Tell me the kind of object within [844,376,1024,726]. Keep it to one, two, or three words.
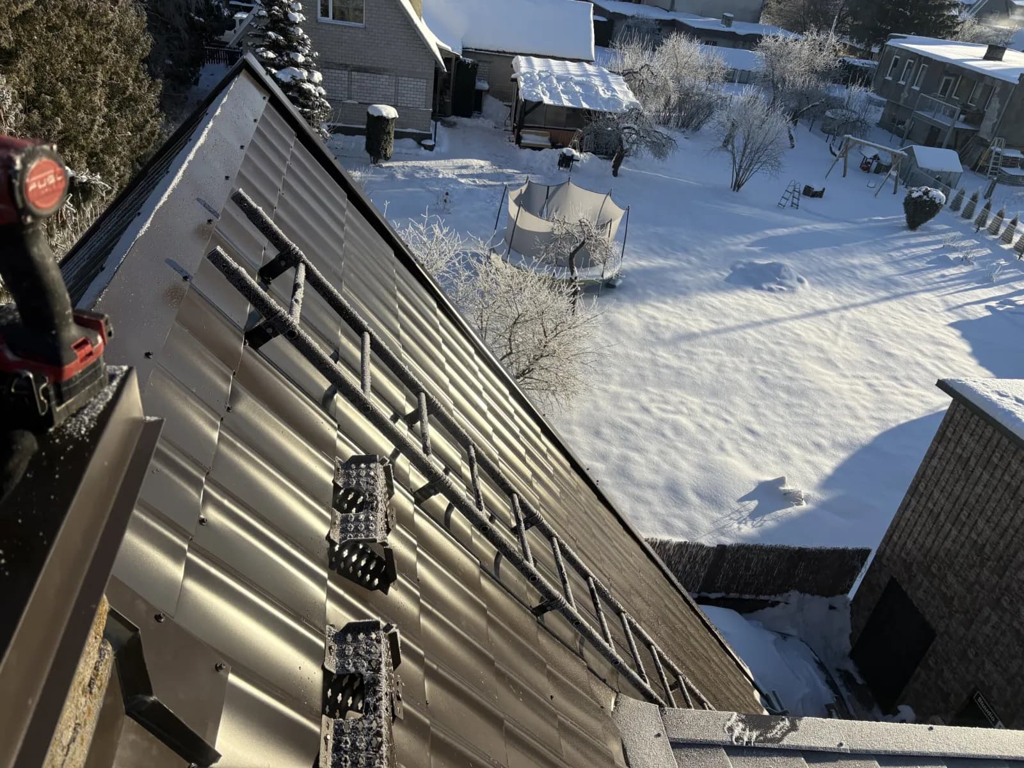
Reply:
building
